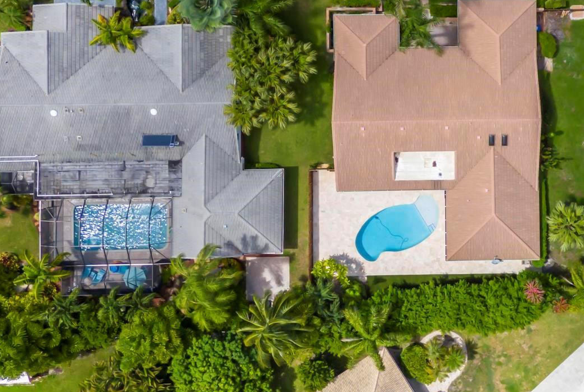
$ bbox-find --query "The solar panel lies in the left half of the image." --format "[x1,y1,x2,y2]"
[140,135,176,147]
